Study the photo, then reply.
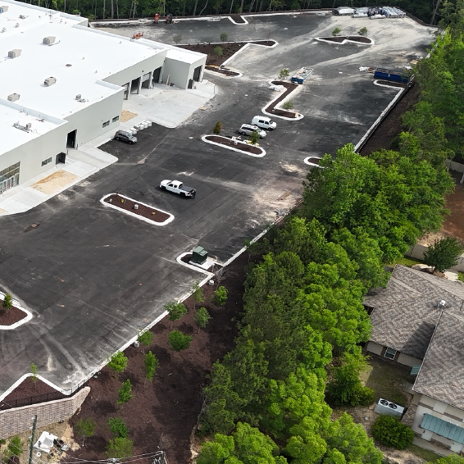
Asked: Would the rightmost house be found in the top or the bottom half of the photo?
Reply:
bottom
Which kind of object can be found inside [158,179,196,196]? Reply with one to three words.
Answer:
vehicle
